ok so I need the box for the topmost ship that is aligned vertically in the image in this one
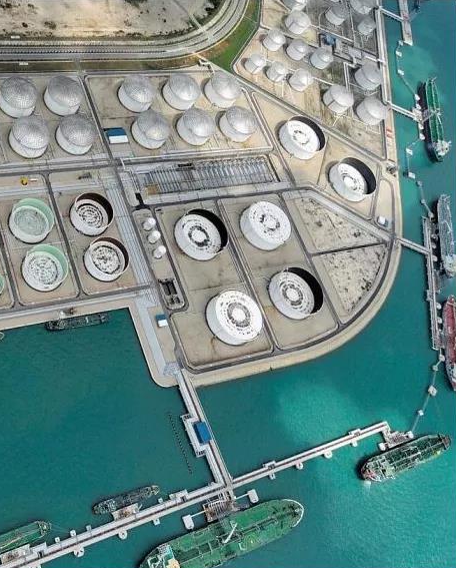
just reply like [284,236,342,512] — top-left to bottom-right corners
[424,77,455,163]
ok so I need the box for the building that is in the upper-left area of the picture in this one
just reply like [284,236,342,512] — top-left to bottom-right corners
[103,128,128,147]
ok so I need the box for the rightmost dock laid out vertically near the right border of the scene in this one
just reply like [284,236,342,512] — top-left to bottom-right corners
[420,217,439,349]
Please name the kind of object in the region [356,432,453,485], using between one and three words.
ship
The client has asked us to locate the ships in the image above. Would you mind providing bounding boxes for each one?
[356,432,453,485]
[129,501,305,568]
[434,192,456,279]
[92,485,161,515]
[0,519,50,555]
[440,294,456,393]
[424,77,455,163]
[43,312,110,332]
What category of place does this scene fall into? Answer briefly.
industrial area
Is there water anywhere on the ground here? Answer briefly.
Yes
